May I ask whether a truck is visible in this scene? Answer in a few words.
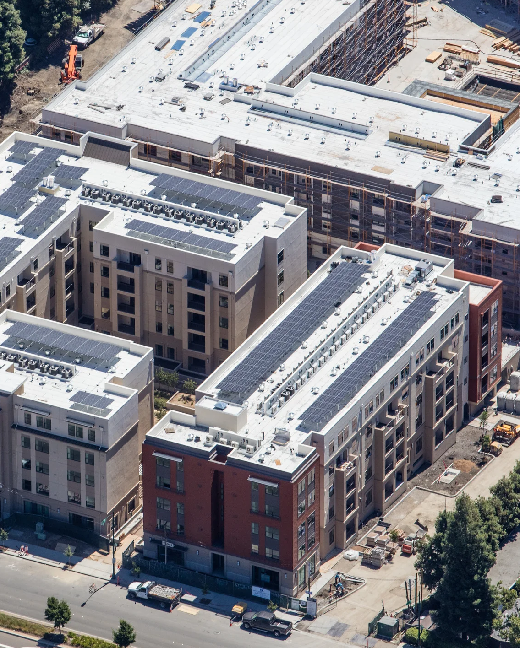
Yes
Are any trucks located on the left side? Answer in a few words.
Yes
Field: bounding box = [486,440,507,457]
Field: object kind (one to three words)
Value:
work vehicle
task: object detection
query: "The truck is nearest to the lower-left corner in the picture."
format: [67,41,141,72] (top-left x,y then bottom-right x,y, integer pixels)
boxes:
[121,576,183,609]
